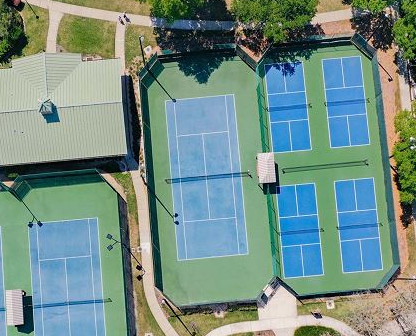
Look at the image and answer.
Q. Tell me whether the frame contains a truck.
No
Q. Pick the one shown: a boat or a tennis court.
tennis court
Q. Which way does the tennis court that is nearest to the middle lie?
vertically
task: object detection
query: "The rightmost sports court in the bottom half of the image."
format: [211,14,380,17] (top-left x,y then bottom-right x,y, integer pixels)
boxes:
[334,177,383,274]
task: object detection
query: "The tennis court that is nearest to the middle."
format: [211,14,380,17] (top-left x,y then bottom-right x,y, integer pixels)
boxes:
[166,94,248,261]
